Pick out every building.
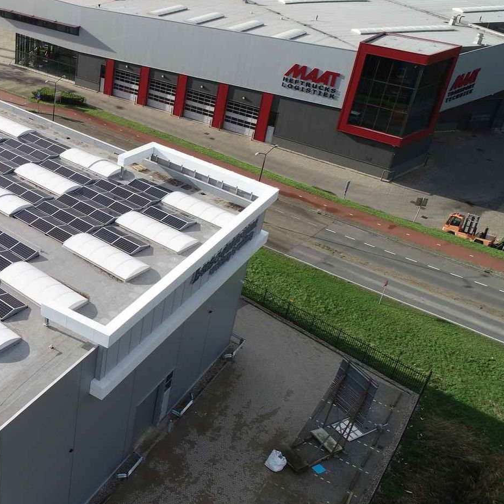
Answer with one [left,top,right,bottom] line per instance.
[0,101,280,504]
[0,0,504,181]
